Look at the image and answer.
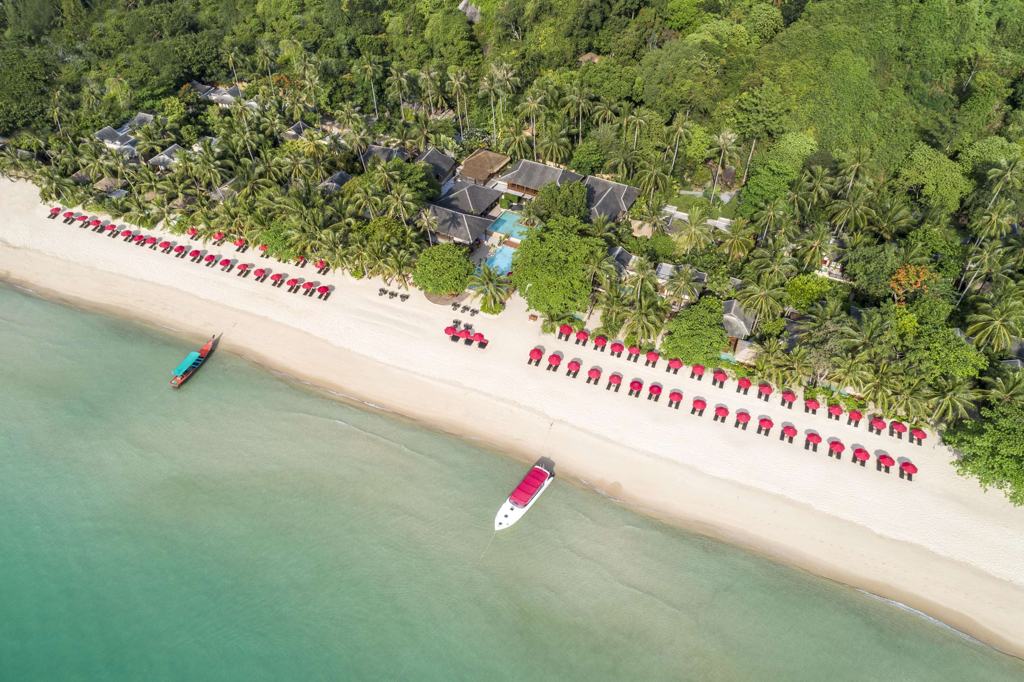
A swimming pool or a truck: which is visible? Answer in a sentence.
Of the two, only a swimming pool appears.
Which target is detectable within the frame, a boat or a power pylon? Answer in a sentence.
Of the two, only a boat appears.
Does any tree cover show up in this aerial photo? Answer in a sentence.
Yes, the picture does contain tree cover.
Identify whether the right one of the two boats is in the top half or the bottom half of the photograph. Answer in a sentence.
Seen from above, the right one of the two boats lies in the bottom half of the view.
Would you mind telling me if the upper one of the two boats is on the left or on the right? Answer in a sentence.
The upper one of the two boats sits on the left side.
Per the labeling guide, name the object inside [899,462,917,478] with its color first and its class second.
red umbrella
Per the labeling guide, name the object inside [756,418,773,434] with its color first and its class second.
red umbrella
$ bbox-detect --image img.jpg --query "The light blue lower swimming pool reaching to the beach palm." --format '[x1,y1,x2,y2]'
[472,246,520,293]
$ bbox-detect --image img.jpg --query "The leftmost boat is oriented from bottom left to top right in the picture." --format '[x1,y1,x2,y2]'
[169,332,210,390]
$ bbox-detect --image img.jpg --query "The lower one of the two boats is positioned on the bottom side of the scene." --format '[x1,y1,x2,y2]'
[494,464,557,534]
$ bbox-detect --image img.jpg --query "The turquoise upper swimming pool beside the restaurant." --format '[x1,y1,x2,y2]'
[486,210,547,245]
